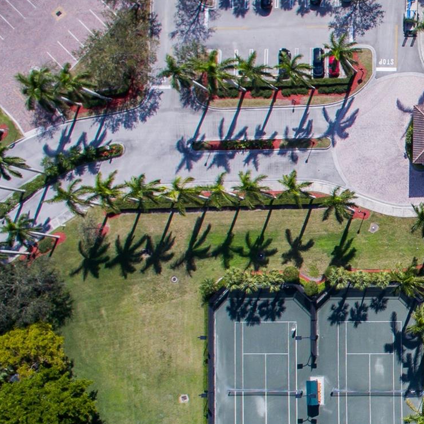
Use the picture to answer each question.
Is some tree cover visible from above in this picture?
Yes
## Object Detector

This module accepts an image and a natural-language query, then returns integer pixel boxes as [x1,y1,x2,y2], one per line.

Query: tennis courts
[215,286,319,424]
[319,286,422,424]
